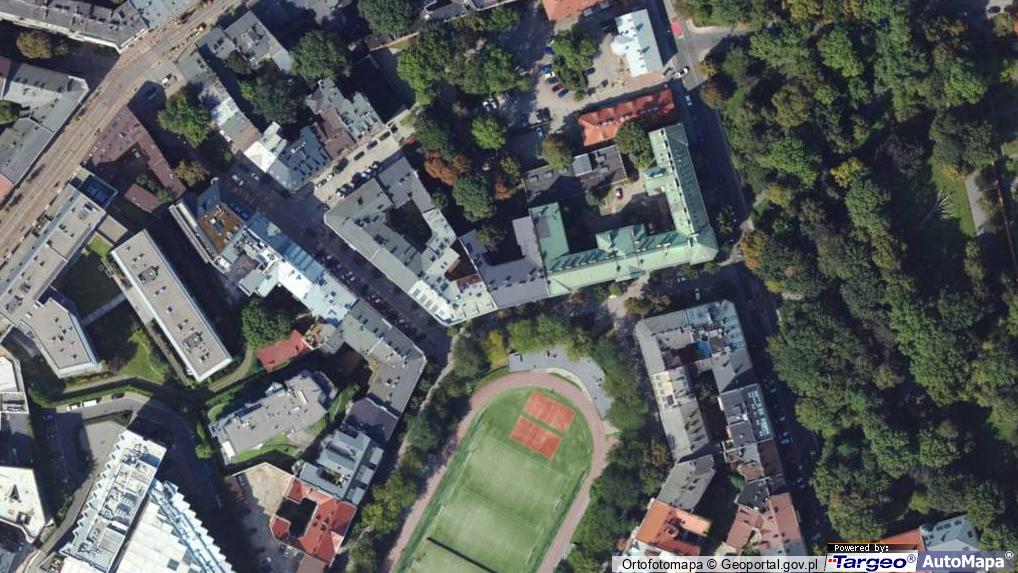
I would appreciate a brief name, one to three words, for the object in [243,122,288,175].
house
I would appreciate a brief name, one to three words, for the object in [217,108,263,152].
building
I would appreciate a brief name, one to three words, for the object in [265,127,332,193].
building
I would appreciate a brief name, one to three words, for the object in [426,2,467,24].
house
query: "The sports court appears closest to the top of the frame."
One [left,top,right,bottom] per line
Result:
[523,390,577,433]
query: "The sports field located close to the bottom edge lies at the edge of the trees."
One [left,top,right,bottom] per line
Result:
[402,382,591,573]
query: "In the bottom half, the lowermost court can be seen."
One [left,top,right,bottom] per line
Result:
[510,416,562,460]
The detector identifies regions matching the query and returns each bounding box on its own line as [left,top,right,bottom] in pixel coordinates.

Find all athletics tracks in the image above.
[389,369,603,573]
